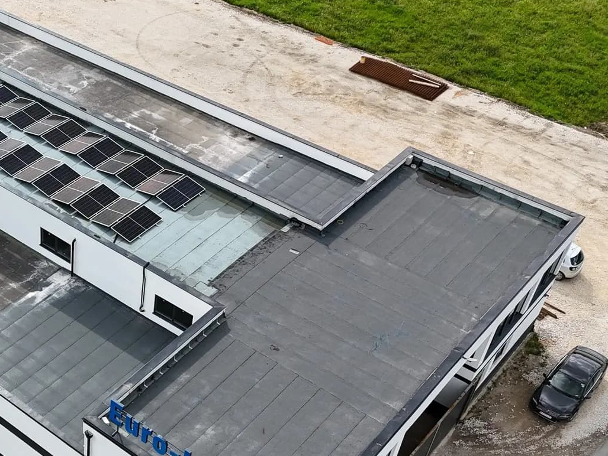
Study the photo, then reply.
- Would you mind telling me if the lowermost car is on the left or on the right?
right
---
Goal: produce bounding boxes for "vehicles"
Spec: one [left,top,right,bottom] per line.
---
[533,347,608,427]
[555,243,586,281]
